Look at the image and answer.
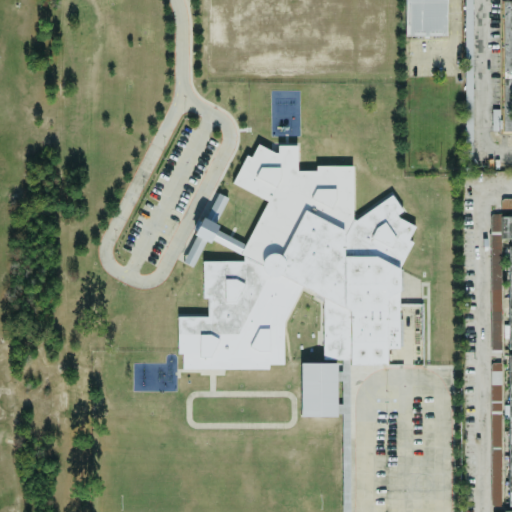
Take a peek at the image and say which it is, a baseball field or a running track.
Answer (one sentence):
This aerial view contains a running track.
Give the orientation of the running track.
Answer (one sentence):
In this picture, the running track lies horizontally.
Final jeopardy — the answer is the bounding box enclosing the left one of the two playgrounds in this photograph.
[134,354,178,392]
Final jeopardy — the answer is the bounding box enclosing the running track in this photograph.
[186,391,298,429]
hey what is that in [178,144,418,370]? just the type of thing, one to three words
building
